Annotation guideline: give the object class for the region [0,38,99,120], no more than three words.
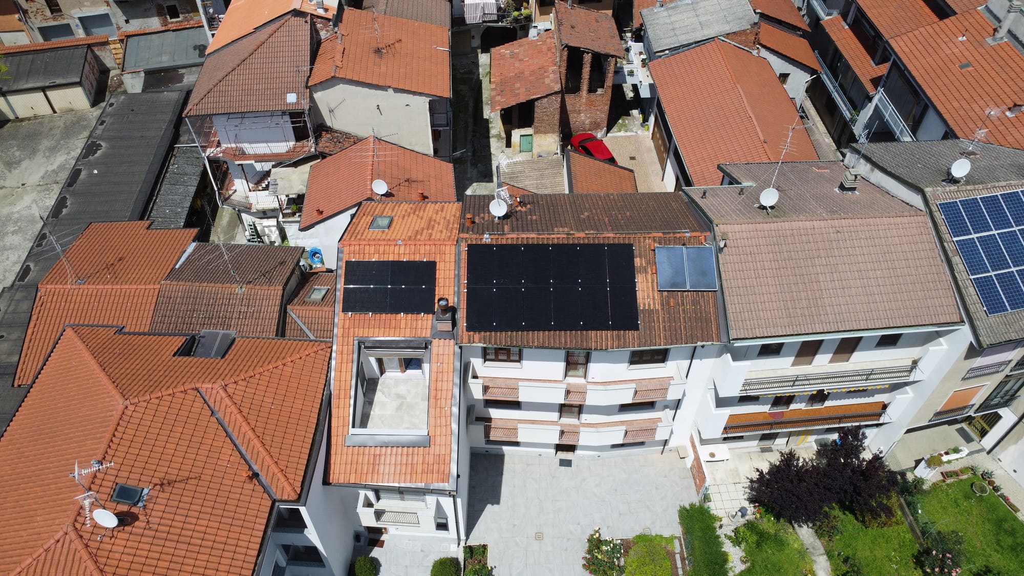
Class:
building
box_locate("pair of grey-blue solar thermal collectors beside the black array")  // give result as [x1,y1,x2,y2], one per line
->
[656,244,719,289]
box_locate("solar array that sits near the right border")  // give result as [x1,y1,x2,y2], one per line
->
[940,188,1024,314]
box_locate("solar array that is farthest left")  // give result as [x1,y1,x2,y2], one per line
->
[341,258,436,315]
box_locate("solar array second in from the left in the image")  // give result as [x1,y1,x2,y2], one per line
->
[466,242,642,330]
